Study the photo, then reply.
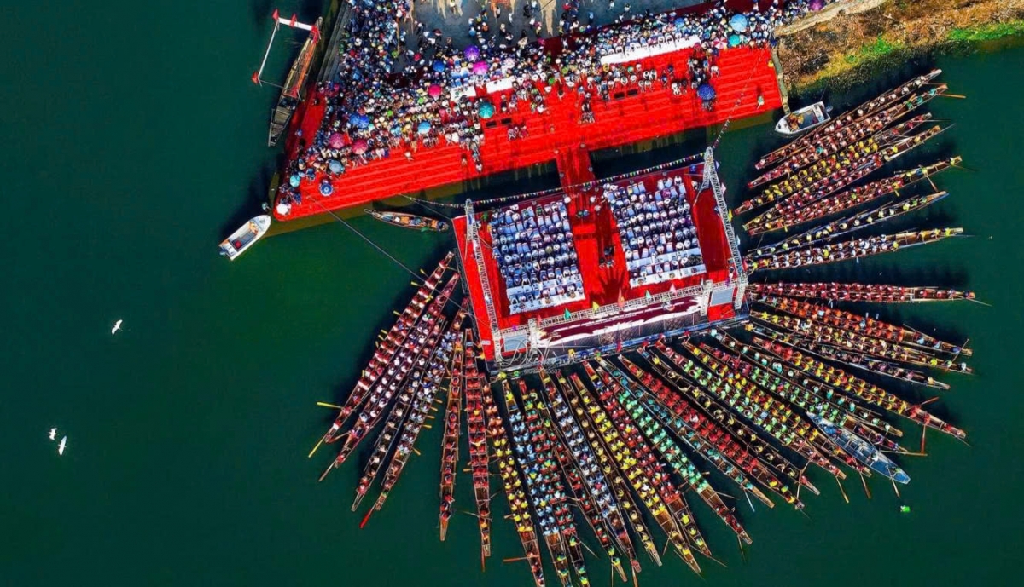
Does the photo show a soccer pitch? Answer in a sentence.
No, there is no soccer pitch in the image.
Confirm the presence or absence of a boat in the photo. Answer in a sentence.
Yes, the frame does contain a boat.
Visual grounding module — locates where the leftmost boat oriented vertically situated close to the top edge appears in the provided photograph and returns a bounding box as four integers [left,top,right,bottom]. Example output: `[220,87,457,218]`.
[253,8,322,148]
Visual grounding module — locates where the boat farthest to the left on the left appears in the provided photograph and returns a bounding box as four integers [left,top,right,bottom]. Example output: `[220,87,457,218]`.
[219,217,269,263]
